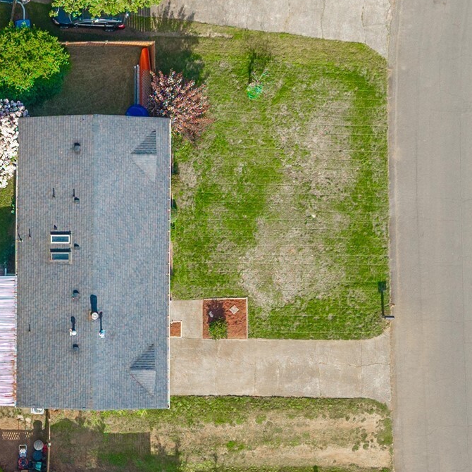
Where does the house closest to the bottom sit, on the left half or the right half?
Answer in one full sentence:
The house closest to the bottom is on the left side of the image.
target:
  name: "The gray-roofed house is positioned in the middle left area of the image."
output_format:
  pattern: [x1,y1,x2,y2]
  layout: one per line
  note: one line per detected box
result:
[14,113,172,412]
